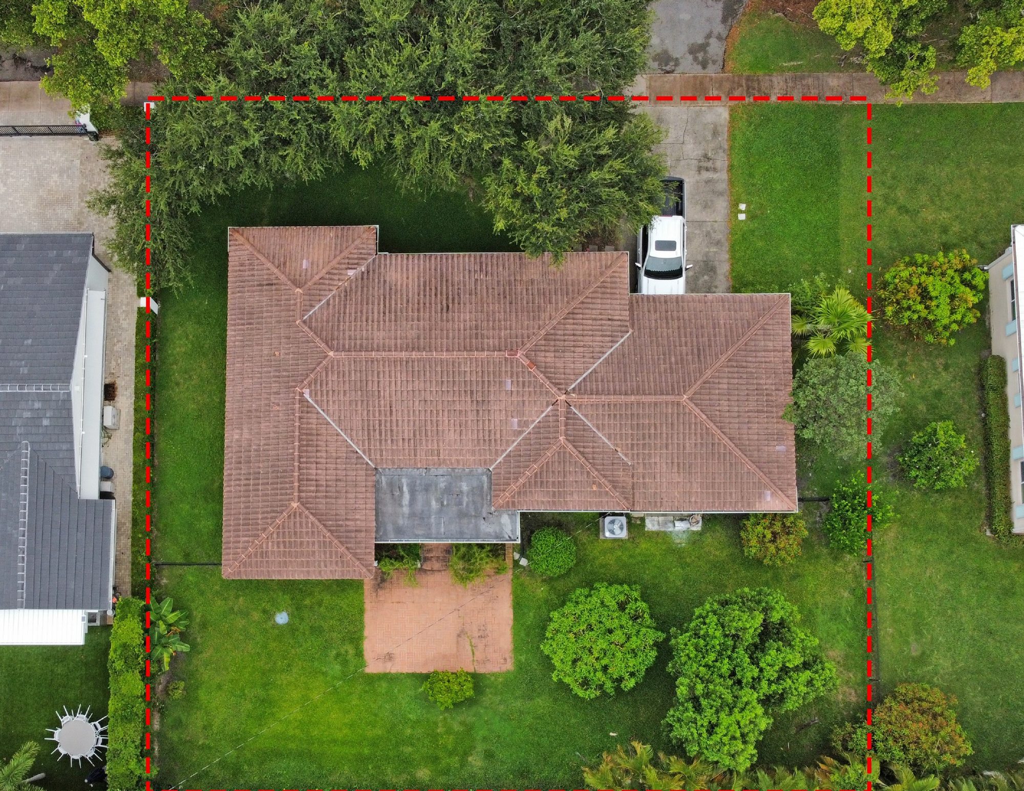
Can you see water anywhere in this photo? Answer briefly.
No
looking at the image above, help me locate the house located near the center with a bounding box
[218,224,799,581]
